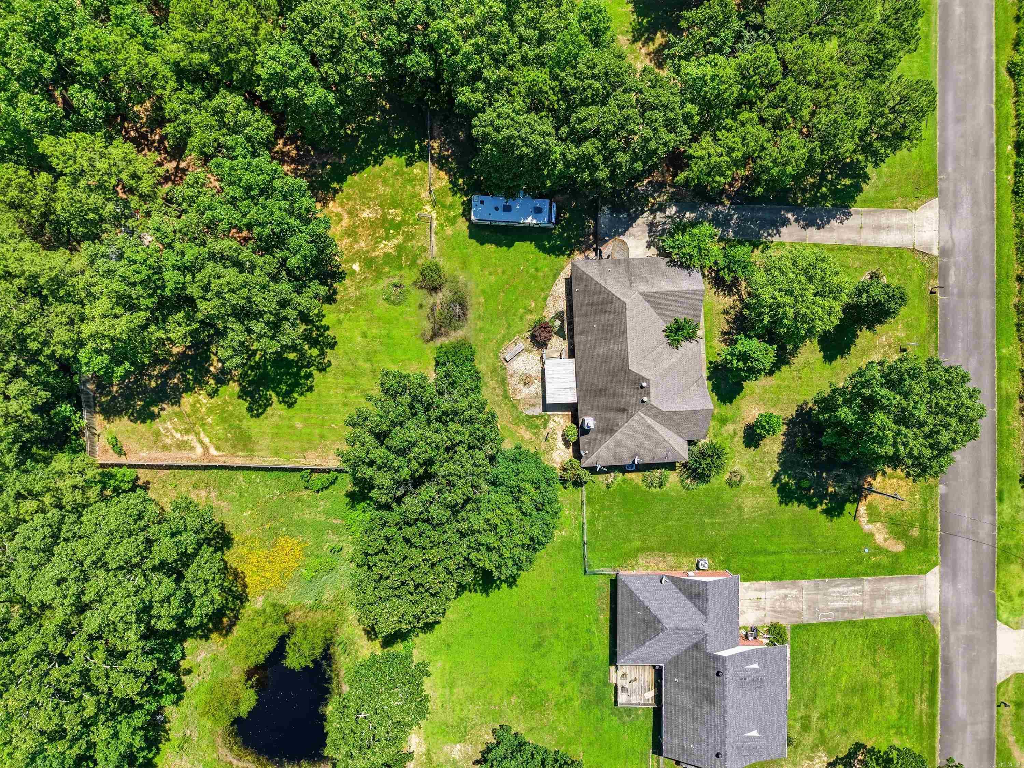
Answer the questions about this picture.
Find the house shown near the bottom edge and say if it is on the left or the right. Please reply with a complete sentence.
The house shown near the bottom edge sits on the right side.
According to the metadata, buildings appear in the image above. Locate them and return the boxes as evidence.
[616,571,789,768]
[571,260,714,470]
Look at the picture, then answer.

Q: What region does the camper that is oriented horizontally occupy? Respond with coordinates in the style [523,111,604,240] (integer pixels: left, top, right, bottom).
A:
[471,194,557,229]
